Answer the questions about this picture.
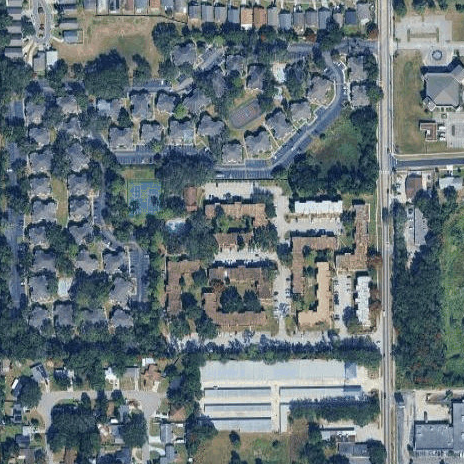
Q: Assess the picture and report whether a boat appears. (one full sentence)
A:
No, the picture doesn't show any boat.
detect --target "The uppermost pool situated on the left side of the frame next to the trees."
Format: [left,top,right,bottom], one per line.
[166,217,185,233]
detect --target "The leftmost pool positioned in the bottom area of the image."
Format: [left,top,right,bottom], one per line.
[57,277,71,295]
